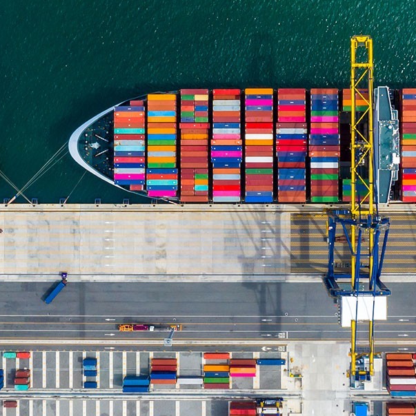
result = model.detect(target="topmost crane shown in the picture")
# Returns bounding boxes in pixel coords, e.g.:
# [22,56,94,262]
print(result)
[322,32,390,380]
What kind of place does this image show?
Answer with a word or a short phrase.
port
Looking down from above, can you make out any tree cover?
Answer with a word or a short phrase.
No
